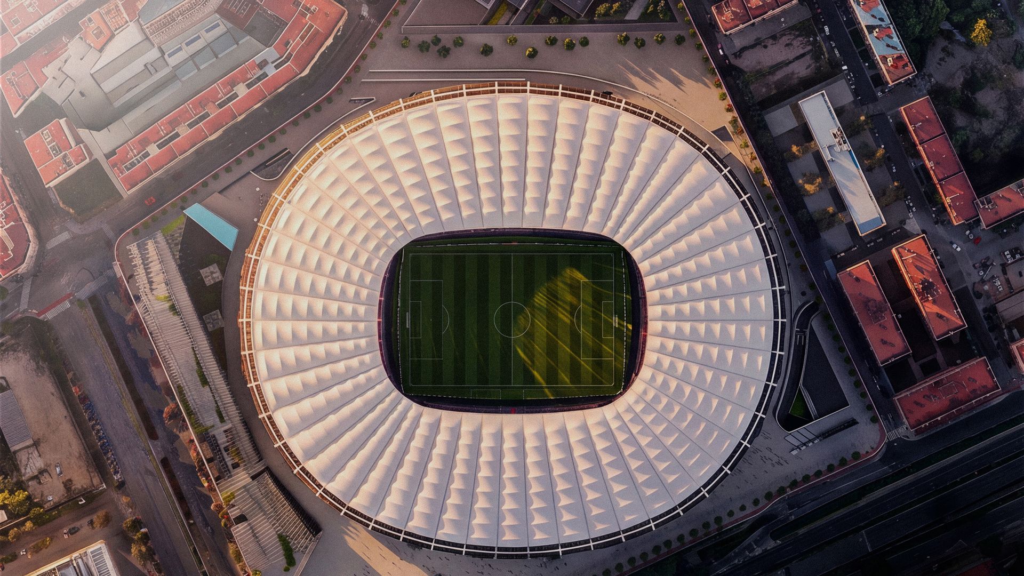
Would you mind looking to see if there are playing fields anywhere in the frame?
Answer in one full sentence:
Yes, the image includes a playing field.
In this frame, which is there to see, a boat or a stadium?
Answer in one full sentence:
Looking from above, you can make out a stadium.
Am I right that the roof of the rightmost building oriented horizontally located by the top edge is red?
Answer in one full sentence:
Yes, the roof of the rightmost building oriented horizontally located by the top edge is indeed red.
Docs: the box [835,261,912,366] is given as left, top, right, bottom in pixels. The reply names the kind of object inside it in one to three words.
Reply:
building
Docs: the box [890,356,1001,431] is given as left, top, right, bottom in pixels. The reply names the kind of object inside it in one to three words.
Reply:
building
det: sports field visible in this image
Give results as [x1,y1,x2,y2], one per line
[394,237,632,399]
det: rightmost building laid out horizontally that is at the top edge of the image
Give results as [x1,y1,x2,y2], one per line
[710,0,798,37]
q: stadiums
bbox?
[236,81,786,559]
